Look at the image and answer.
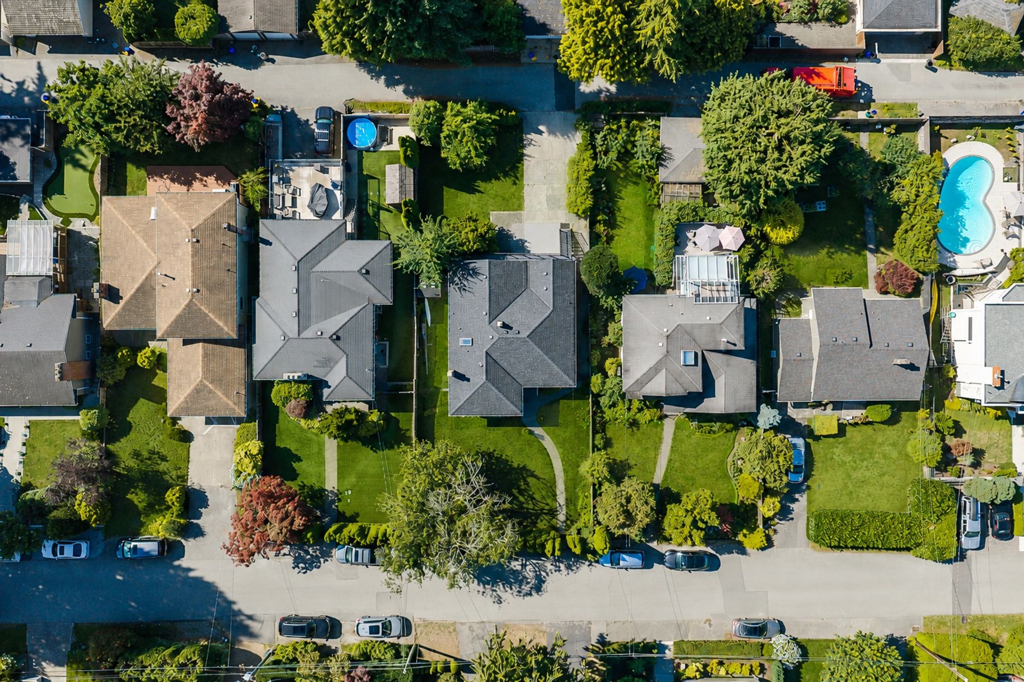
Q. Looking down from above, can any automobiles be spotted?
Yes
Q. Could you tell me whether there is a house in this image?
Yes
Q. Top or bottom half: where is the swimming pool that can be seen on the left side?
top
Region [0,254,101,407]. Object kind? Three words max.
house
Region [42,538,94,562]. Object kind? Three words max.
car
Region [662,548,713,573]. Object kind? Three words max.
car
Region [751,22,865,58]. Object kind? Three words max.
building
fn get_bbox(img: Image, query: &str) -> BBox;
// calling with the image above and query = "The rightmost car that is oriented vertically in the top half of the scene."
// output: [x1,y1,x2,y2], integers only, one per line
[313,107,338,159]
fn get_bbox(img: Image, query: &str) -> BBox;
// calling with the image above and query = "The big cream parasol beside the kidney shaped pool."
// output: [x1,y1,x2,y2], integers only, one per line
[999,186,1024,221]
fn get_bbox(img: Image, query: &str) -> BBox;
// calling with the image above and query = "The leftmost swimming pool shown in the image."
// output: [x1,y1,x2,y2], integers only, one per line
[346,118,379,152]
